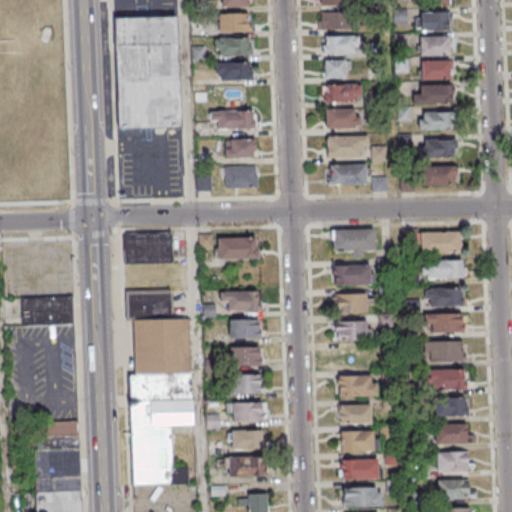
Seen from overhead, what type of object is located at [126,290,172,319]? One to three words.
building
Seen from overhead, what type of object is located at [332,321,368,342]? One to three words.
house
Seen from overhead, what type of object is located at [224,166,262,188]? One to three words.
house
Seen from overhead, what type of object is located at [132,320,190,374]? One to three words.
building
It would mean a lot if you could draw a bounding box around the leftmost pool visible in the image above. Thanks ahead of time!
[224,88,243,100]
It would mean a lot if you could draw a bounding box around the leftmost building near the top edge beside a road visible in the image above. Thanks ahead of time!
[115,16,181,127]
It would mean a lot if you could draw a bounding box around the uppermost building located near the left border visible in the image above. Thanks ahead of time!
[21,296,72,324]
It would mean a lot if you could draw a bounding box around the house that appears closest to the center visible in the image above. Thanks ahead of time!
[217,237,262,259]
